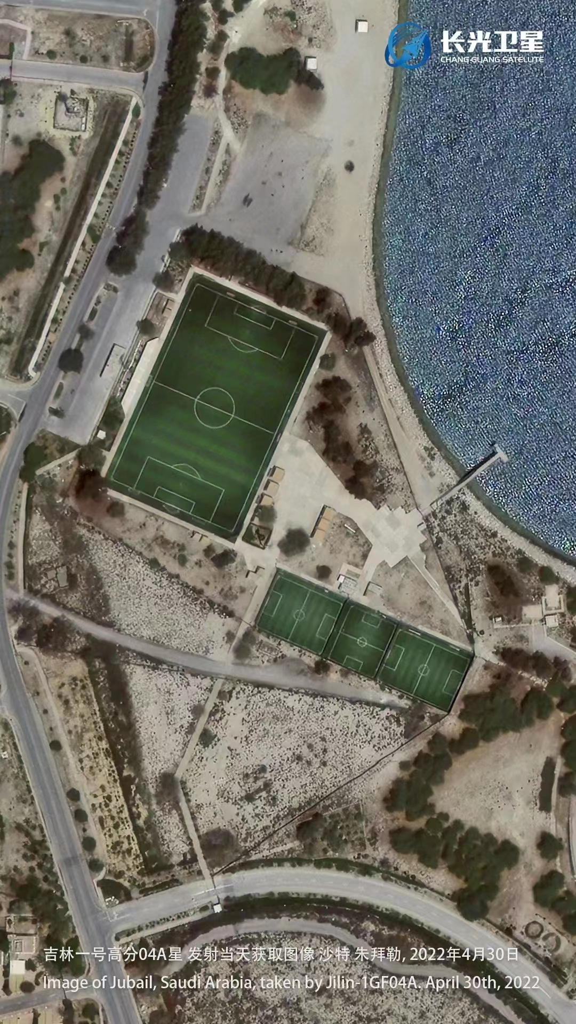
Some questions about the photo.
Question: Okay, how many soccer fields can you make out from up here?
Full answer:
The number of soccer fields here is 4.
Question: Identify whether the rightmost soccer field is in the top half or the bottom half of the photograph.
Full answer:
Seen from above, the rightmost soccer field lies in the bottom half of the view.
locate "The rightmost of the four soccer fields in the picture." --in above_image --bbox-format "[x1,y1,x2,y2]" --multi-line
[377,624,473,713]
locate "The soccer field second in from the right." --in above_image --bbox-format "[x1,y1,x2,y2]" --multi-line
[324,599,397,678]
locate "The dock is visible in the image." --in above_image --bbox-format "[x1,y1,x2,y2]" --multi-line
[430,444,509,509]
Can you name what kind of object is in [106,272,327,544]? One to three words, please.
soccer field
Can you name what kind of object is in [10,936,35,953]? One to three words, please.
house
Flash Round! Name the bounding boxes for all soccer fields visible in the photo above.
[256,568,347,657]
[324,599,397,678]
[377,624,473,713]
[106,272,327,544]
